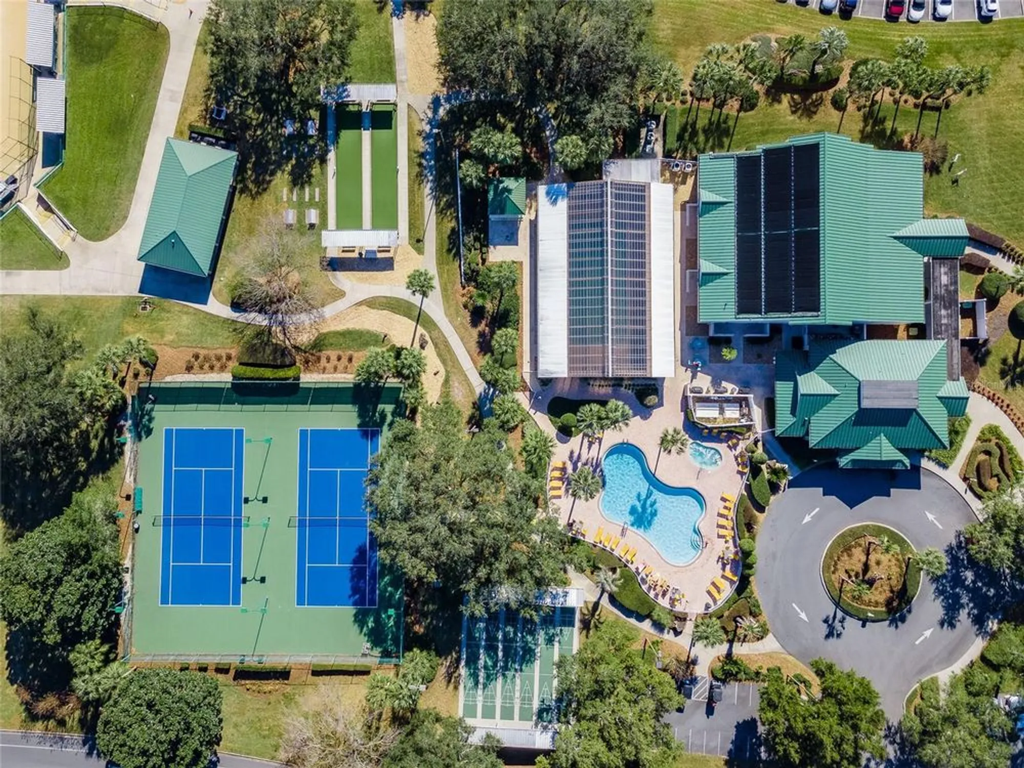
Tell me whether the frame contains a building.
Yes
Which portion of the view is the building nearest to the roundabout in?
right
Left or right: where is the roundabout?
right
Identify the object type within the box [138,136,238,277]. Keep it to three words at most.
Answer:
building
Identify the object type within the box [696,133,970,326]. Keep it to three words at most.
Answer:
building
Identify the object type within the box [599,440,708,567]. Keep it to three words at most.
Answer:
swimming pool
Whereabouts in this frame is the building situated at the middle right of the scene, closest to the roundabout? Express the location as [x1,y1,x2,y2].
[769,339,969,468]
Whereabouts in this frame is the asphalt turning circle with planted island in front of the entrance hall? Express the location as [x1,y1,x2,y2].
[757,460,984,768]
